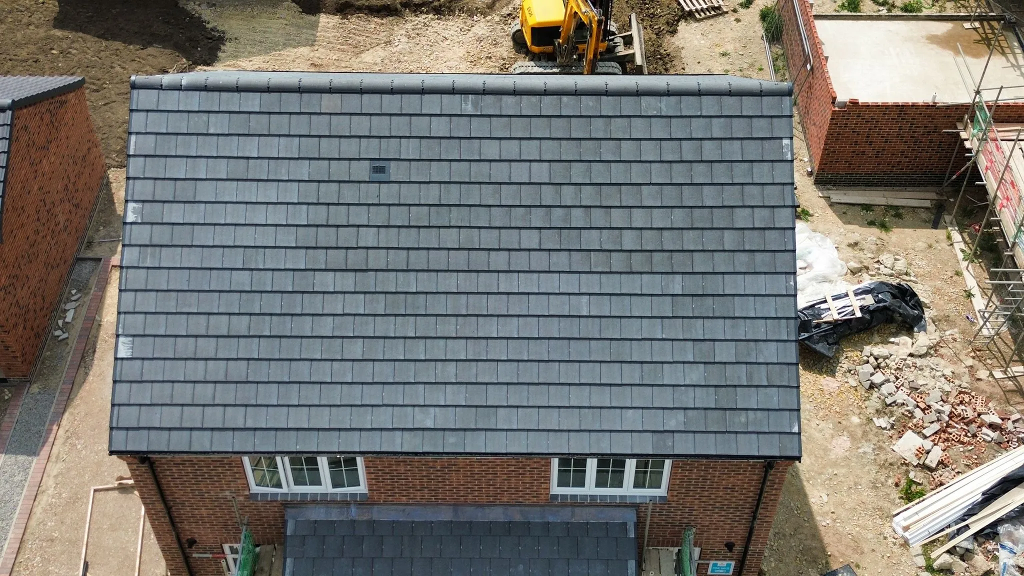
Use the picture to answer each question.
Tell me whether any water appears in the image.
No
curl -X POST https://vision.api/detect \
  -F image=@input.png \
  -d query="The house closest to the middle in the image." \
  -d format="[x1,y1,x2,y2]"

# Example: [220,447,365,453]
[107,69,803,576]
